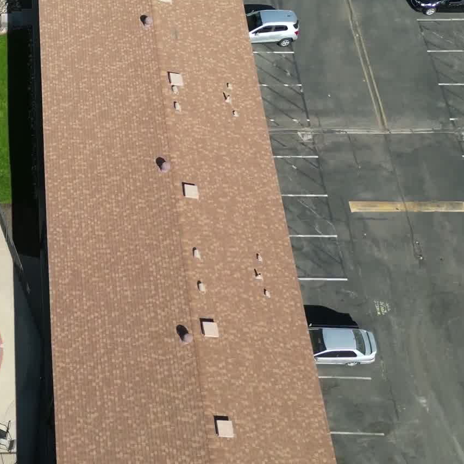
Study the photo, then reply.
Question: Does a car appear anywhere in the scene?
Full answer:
Yes, the frame does contain a car.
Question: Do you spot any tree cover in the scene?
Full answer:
No, tree cover can't be seen anywhere here.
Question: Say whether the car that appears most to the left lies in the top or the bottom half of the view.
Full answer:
The top half of the photo is where the car that appears most to the left is.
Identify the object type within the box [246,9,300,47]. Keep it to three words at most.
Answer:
car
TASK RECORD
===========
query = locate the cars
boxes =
[246,9,300,47]
[417,0,464,15]
[308,322,379,366]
